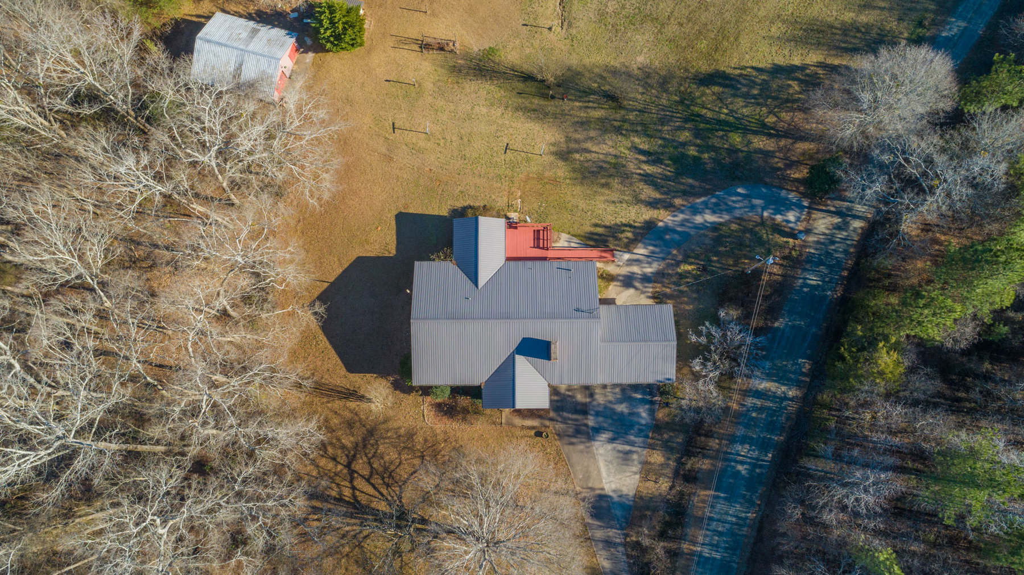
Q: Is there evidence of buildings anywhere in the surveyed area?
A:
Yes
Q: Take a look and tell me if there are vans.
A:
No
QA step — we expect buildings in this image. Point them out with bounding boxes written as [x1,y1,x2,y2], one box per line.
[343,0,366,15]
[409,215,677,409]
[193,12,303,107]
